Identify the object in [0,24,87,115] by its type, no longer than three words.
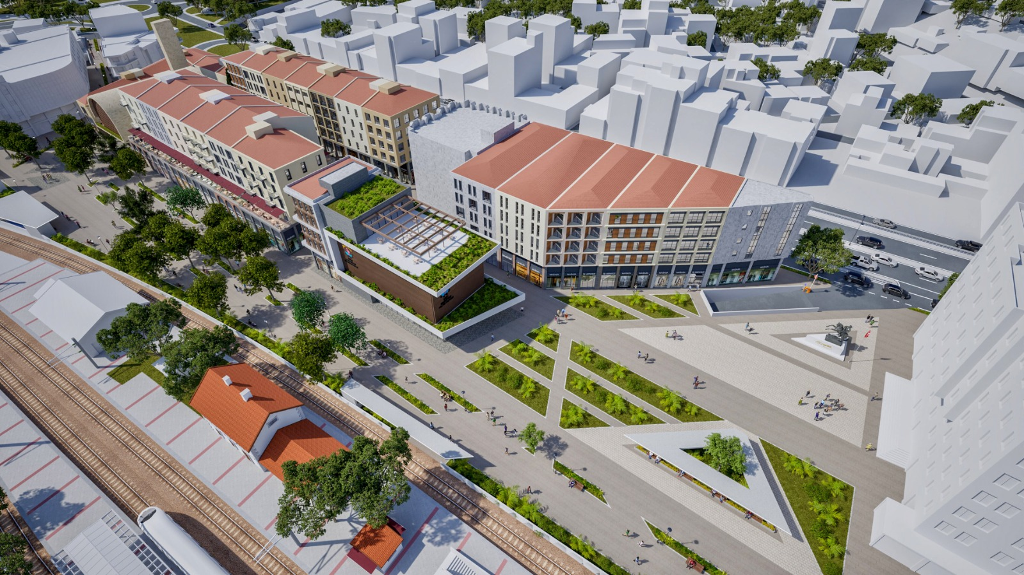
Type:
building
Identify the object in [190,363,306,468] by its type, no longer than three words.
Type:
building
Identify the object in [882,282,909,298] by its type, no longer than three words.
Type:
car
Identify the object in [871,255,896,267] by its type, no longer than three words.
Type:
vehicle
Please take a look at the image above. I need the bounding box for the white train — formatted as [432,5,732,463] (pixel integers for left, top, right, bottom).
[137,506,229,575]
